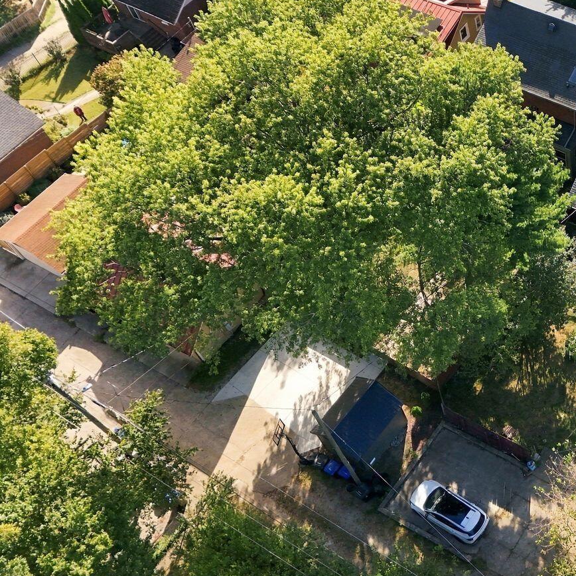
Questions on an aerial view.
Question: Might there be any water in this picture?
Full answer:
No, water can't be seen anywhere here.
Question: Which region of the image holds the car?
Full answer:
The car is in the bottom right part of the image.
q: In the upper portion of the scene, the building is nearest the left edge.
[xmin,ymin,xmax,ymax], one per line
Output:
[0,96,54,194]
